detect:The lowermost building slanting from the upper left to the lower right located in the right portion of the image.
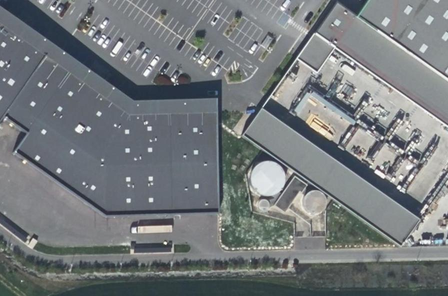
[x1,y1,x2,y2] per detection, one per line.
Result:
[244,109,420,245]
